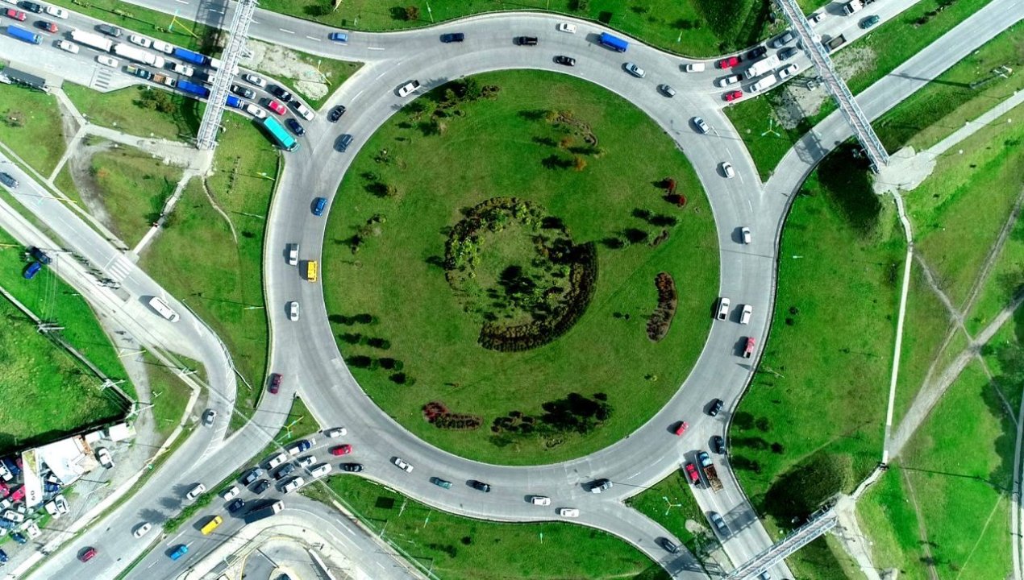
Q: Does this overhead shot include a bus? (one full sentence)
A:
Yes, there's a bus down there.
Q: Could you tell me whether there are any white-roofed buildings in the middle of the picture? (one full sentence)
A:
No, I can find no white-roofed building in the middle of the picture.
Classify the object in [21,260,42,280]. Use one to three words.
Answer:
car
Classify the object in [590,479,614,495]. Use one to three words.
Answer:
vehicle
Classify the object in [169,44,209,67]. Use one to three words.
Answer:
truck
